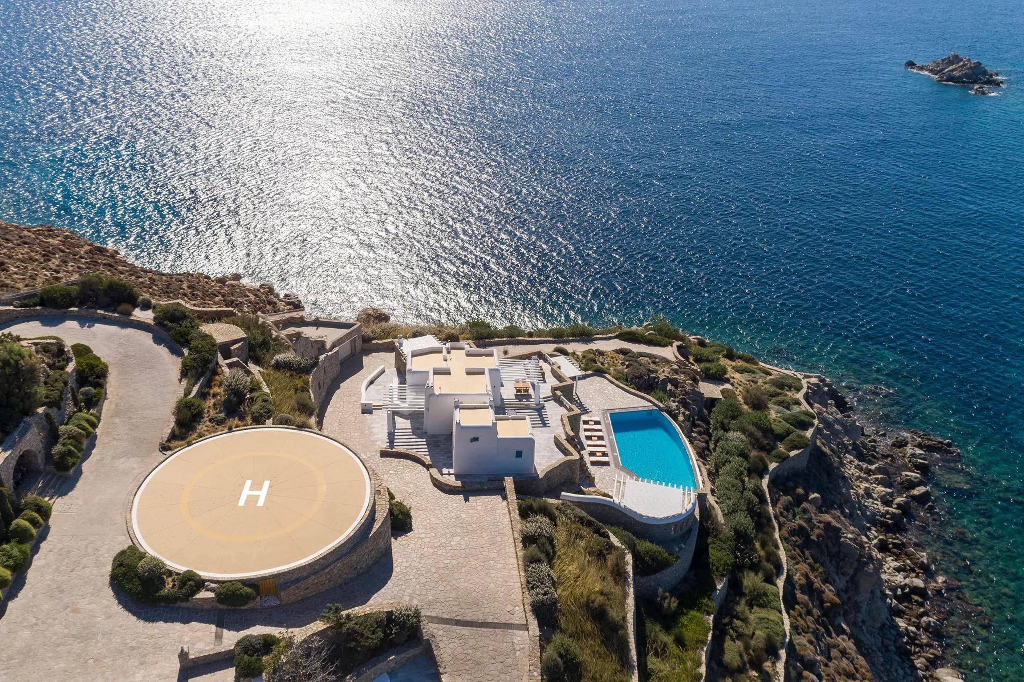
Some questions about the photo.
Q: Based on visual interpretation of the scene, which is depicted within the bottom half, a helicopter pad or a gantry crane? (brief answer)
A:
helicopter pad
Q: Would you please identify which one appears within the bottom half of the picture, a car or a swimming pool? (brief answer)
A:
swimming pool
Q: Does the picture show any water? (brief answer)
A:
Yes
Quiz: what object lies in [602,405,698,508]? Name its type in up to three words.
swimming pool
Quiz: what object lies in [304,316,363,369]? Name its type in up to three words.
building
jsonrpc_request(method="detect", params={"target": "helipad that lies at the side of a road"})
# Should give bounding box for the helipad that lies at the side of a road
[123,424,377,603]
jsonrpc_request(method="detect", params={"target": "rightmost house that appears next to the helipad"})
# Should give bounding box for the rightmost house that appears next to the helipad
[405,339,537,475]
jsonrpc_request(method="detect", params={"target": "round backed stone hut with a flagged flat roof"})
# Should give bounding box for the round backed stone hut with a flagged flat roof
[200,322,247,358]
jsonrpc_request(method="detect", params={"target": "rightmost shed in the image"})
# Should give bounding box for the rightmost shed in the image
[698,382,733,415]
